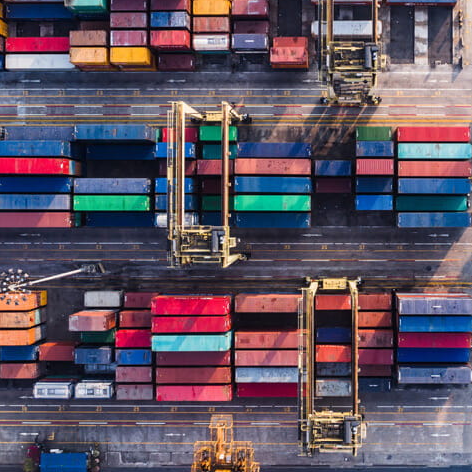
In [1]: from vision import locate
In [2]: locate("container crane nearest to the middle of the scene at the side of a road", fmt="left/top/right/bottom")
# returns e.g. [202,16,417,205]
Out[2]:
[163,95,260,276]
